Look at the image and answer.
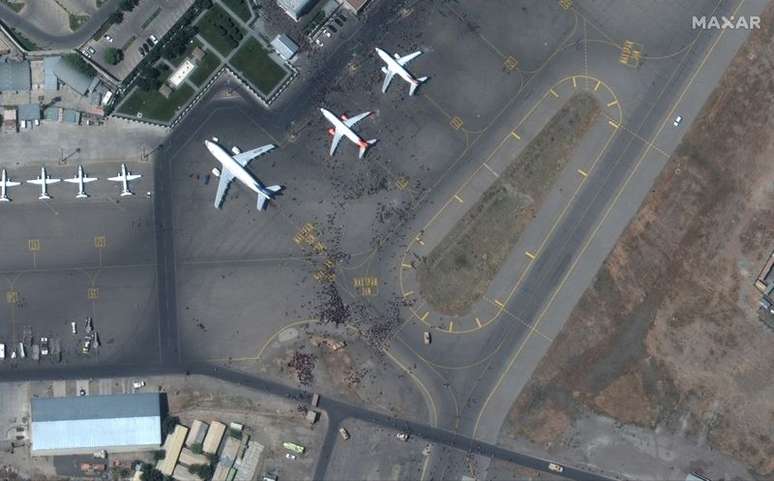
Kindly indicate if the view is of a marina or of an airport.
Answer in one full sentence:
The area seen from above is an airport.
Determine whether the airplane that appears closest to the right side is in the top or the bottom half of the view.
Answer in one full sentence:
You can find the airplane that appears closest to the right side in the top half.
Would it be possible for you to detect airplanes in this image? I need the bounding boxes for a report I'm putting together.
[64,166,98,195]
[107,163,141,194]
[205,140,284,210]
[27,168,60,197]
[321,109,376,155]
[375,48,429,95]
[0,169,21,199]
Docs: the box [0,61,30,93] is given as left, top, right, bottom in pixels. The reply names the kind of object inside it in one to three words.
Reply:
building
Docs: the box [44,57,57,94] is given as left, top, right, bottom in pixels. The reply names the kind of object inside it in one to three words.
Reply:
building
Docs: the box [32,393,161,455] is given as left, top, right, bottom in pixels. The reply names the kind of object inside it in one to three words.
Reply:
hangar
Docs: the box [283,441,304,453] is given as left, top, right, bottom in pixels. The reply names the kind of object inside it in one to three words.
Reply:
vehicle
